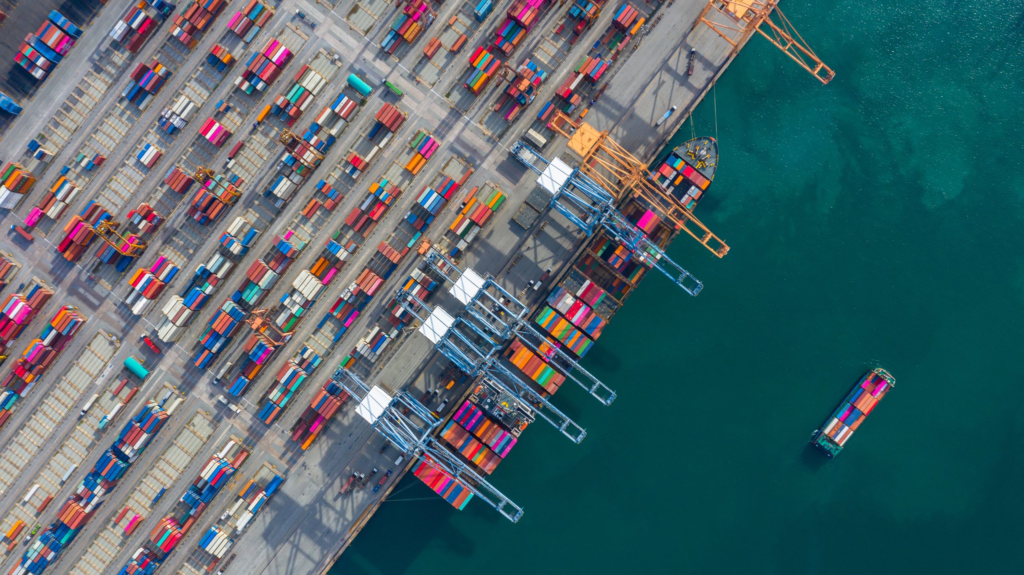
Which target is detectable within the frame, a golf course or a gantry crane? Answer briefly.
gantry crane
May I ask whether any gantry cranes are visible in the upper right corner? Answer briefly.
Yes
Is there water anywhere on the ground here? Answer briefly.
Yes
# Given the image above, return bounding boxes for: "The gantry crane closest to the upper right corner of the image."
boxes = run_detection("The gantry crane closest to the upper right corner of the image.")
[689,0,841,84]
